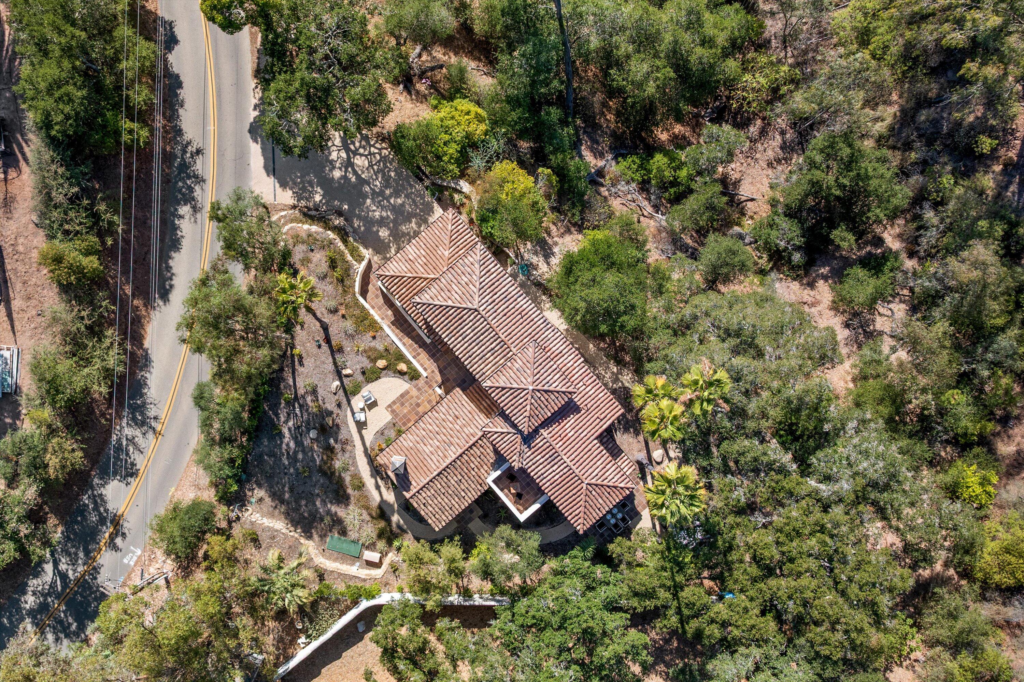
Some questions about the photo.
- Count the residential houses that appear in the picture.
1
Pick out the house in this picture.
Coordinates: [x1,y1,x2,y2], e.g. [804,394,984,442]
[374,207,637,535]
